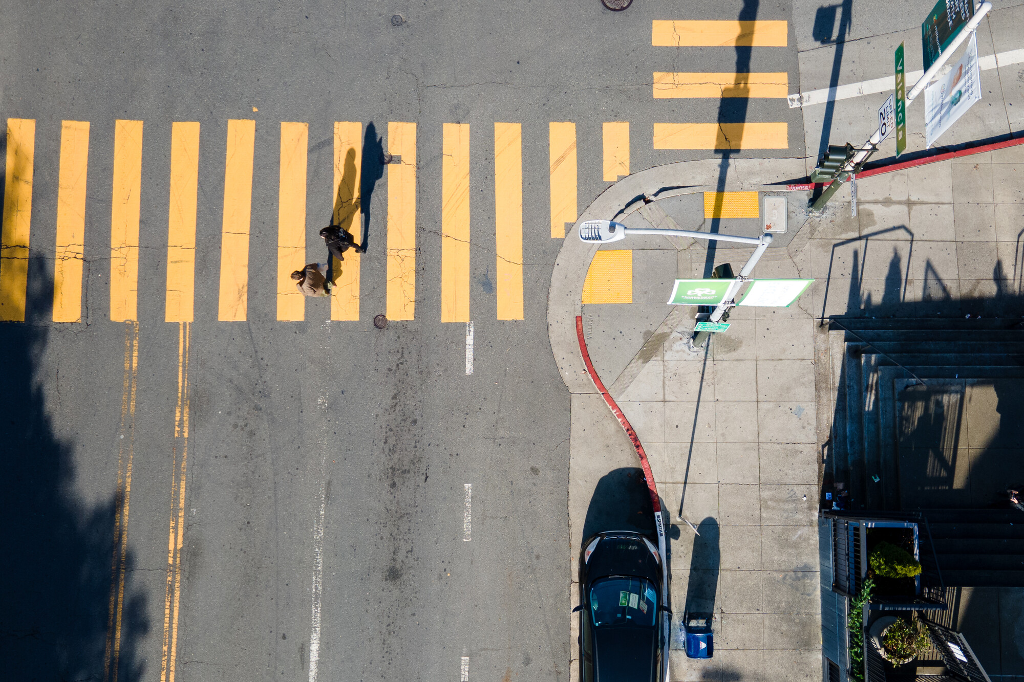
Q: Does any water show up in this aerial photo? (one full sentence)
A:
No, no water is visible.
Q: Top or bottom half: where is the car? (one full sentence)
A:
The car is in the bottom half of the image.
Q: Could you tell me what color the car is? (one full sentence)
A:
The car looks black in the image.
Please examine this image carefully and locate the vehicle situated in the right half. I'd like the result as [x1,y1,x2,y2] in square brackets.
[570,530,674,682]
